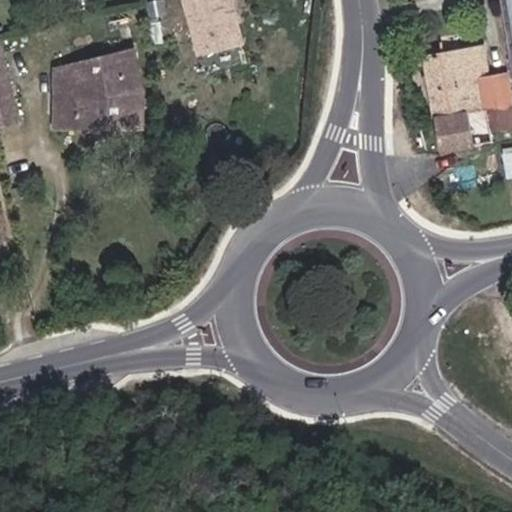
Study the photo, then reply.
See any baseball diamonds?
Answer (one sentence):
No, this view has no baseball diamond in it.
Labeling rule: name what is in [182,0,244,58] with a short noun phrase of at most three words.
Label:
house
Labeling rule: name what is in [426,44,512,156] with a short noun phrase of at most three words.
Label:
house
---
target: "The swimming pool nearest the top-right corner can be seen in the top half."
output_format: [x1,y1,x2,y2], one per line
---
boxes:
[456,165,478,192]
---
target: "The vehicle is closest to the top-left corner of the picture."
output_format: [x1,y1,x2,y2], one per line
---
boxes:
[12,50,24,72]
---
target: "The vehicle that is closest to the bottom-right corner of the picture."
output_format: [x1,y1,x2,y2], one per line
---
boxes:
[428,308,448,326]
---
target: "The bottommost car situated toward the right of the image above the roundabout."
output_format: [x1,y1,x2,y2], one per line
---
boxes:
[435,154,456,168]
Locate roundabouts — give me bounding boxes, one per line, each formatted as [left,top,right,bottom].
[214,184,444,414]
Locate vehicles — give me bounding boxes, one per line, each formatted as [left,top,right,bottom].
[12,50,24,72]
[435,154,456,168]
[38,72,48,92]
[305,378,325,388]
[491,46,502,68]
[428,308,448,326]
[8,163,29,174]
